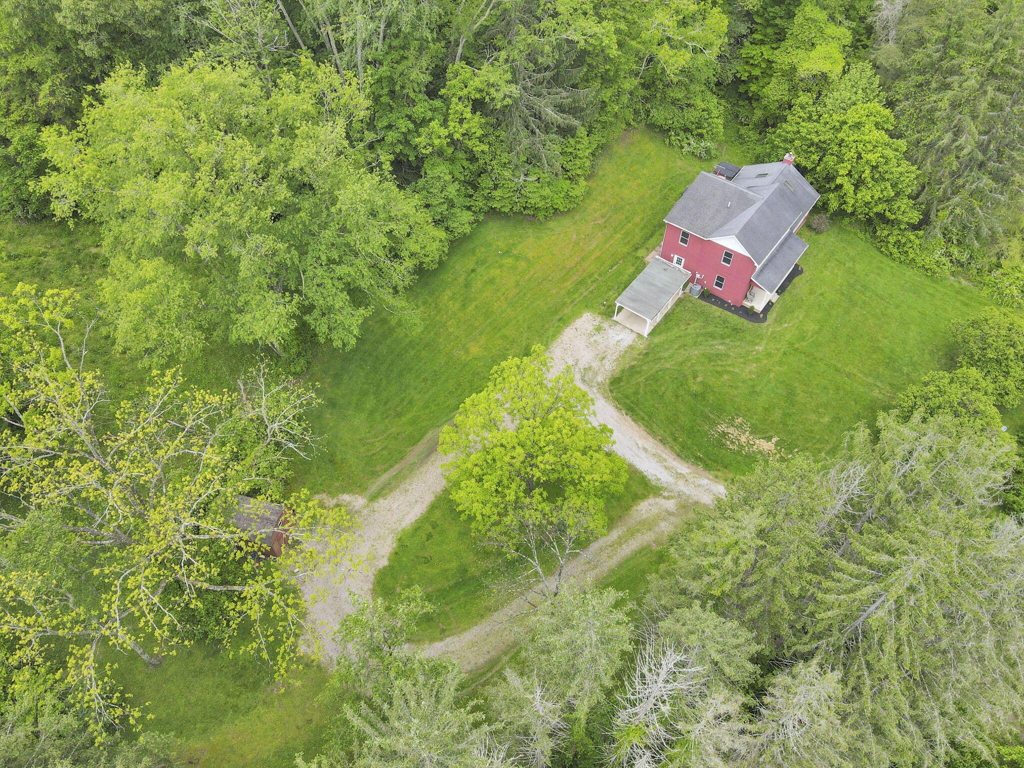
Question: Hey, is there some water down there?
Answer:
No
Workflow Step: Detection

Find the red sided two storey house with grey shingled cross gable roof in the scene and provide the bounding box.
[659,152,821,312]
